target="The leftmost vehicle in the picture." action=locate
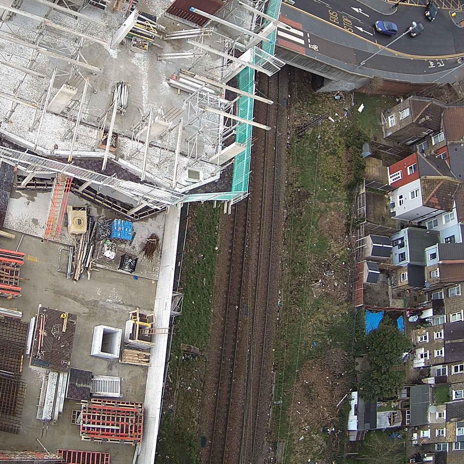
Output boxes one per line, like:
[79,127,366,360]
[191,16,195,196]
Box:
[379,20,400,34]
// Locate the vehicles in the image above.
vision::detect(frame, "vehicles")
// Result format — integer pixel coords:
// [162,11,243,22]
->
[379,20,400,34]
[426,0,438,18]
[411,23,428,36]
